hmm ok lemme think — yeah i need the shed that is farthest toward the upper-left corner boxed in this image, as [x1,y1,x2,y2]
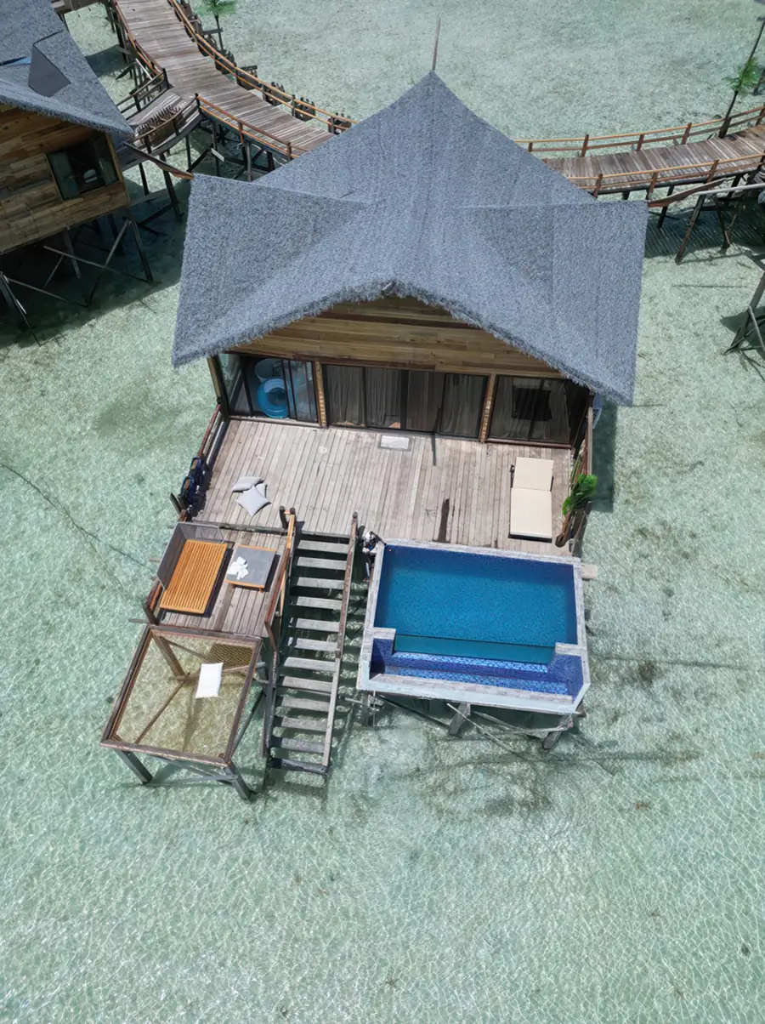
[0,4,148,321]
